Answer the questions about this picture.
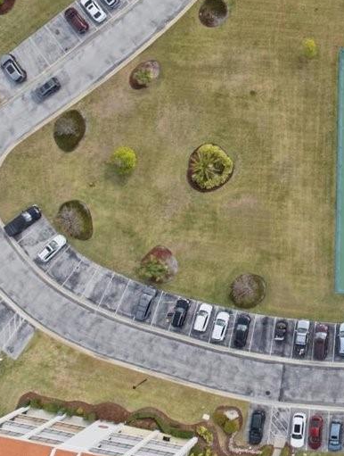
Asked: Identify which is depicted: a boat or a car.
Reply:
car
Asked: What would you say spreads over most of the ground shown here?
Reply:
grass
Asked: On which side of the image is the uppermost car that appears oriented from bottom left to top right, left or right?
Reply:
left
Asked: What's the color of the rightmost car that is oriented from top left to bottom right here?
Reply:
white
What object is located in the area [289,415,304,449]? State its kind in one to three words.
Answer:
car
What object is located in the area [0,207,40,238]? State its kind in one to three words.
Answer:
truck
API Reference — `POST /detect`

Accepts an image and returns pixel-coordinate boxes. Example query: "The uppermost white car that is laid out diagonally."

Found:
[77,0,106,23]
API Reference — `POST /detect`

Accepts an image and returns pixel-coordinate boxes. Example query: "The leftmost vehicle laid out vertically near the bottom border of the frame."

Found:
[247,412,265,447]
